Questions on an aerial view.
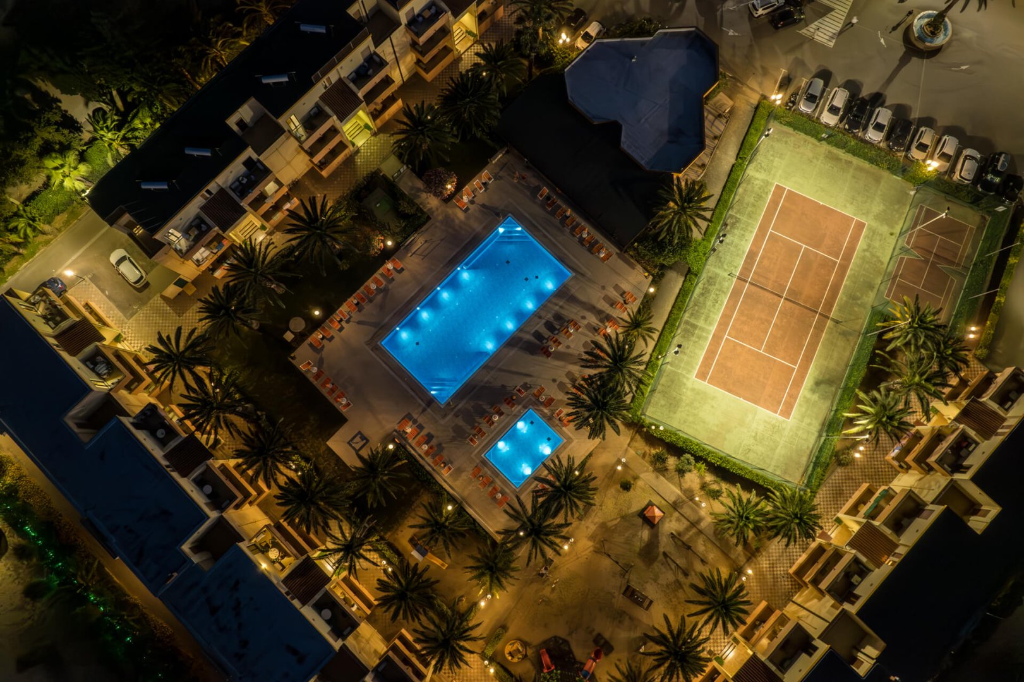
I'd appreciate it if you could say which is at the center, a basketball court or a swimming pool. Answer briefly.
swimming pool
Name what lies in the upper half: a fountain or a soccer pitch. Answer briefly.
fountain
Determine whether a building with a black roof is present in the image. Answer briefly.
Yes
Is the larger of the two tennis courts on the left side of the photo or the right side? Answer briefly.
right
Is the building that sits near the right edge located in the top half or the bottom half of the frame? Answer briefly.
bottom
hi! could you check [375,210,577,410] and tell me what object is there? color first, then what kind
blue swimming pool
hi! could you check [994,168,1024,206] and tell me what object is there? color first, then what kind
black car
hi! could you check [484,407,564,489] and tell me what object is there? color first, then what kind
blue swimming pool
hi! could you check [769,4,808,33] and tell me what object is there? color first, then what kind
black car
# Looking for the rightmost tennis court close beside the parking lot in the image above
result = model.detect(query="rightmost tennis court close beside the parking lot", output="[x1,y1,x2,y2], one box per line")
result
[877,191,984,328]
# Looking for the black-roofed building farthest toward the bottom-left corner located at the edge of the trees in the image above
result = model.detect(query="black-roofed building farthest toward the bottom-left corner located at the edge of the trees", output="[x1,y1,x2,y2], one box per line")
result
[0,295,457,682]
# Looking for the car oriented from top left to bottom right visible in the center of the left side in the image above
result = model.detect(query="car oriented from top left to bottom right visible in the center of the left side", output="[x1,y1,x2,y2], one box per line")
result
[111,249,148,288]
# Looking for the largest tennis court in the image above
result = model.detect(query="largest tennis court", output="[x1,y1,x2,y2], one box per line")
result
[644,123,913,483]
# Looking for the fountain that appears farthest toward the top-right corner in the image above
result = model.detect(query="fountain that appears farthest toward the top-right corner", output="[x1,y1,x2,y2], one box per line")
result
[913,9,957,50]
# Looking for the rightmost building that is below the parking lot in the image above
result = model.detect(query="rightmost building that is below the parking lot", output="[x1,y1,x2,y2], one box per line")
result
[694,373,1024,682]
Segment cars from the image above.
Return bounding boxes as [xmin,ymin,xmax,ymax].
[560,2,593,37]
[769,4,808,33]
[951,147,983,186]
[841,96,872,135]
[746,0,787,18]
[928,133,960,174]
[111,249,148,288]
[905,124,937,163]
[977,151,1011,193]
[572,17,606,55]
[777,82,806,116]
[884,116,917,154]
[994,168,1024,206]
[797,76,826,116]
[819,87,850,127]
[862,106,893,145]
